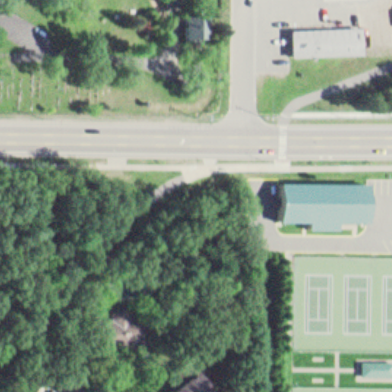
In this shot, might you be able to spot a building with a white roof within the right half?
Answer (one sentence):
Yes, you'll find a building with a white roof within the right half.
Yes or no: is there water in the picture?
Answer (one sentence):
No, there is no water in the image.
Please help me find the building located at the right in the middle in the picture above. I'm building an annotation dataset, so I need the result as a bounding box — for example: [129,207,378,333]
[282,184,377,232]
